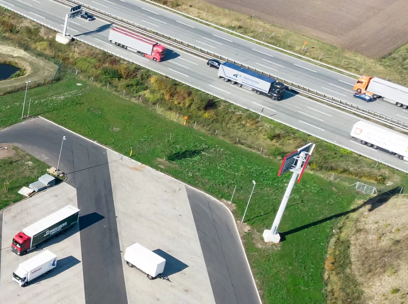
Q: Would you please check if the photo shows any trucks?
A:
Yes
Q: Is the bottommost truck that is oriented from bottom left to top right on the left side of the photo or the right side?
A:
left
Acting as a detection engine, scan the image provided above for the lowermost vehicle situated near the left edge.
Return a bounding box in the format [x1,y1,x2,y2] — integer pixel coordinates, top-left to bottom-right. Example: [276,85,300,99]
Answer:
[9,249,57,288]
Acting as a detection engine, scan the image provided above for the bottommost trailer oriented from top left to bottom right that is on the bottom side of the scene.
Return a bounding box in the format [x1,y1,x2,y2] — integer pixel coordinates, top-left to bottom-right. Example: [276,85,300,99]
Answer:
[123,243,169,282]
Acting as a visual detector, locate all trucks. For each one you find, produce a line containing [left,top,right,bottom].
[108,27,168,63]
[349,122,408,163]
[10,205,80,255]
[217,61,287,100]
[354,76,408,110]
[9,249,57,288]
